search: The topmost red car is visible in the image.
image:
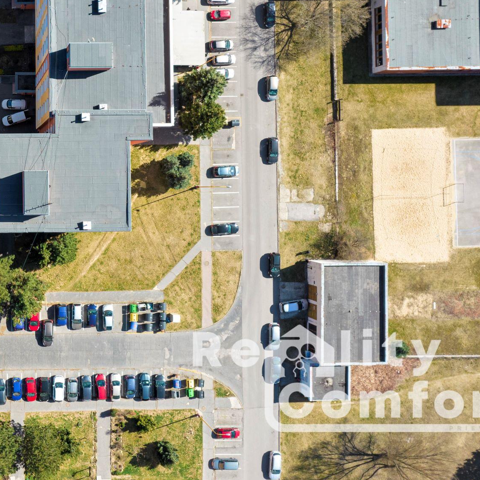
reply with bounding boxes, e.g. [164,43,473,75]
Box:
[208,8,232,22]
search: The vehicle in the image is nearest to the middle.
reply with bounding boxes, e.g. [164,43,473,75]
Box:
[211,223,238,235]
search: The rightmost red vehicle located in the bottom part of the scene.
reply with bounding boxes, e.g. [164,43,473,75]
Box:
[214,426,240,440]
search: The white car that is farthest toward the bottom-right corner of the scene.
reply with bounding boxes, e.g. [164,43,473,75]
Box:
[267,451,283,479]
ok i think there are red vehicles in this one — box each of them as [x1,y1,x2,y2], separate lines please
[208,8,232,22]
[214,426,240,440]
[94,372,108,400]
[25,377,36,401]
[28,309,41,334]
